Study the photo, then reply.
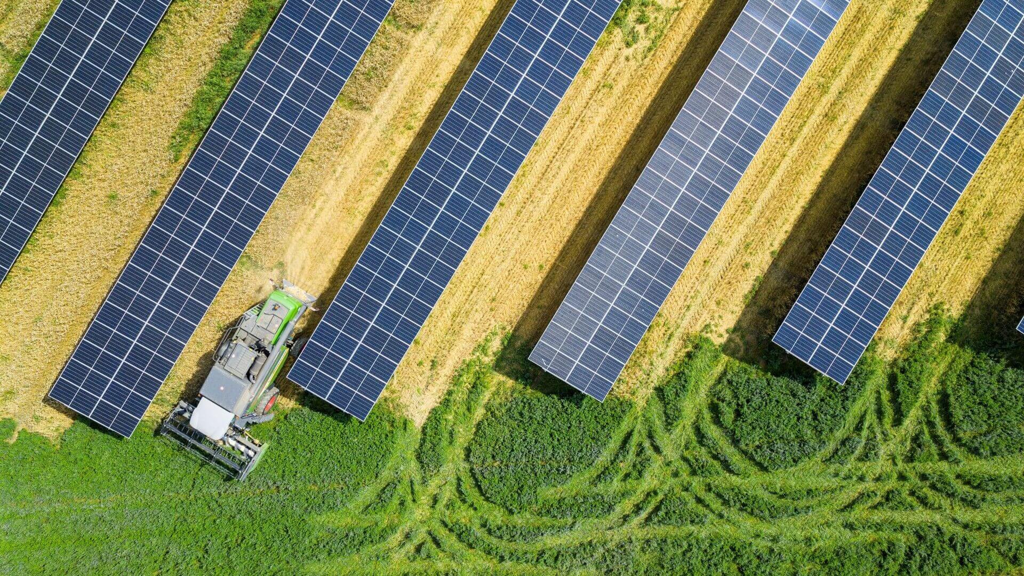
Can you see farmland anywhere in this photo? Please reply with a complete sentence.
Yes, there's farmland in this view.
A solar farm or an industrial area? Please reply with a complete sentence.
The area seen from above is a solar farm.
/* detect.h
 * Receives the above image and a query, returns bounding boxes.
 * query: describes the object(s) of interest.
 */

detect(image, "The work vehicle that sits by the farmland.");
[159,278,322,480]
